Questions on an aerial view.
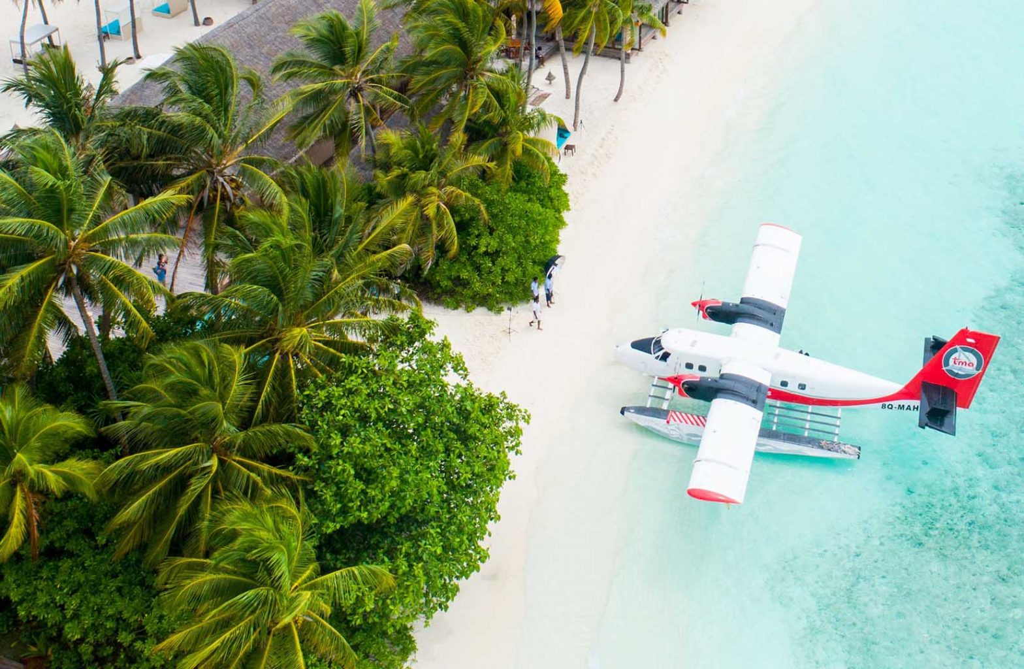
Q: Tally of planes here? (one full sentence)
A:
Only 1 plane is visible.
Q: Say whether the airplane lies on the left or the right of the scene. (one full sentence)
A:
The airplane sits on the right side.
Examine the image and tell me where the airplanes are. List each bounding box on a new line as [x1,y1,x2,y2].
[614,224,999,507]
